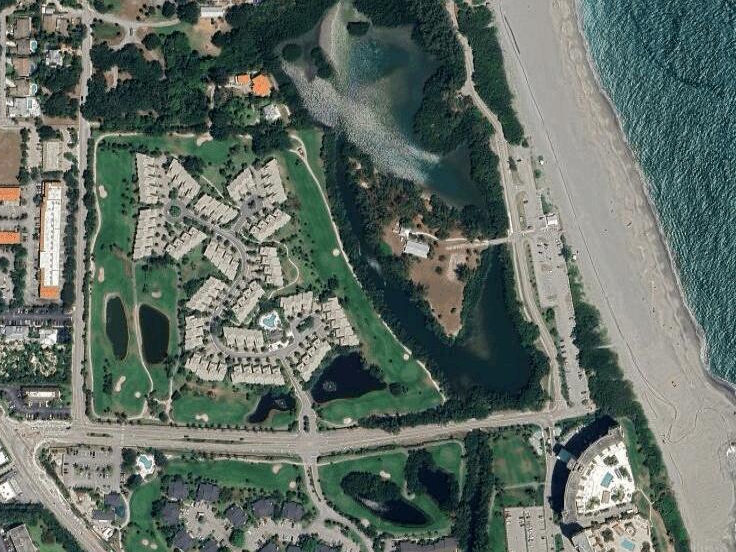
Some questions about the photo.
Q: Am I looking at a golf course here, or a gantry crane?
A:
golf course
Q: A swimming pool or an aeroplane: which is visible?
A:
swimming pool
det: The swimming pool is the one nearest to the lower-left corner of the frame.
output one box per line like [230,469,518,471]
[138,454,155,478]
